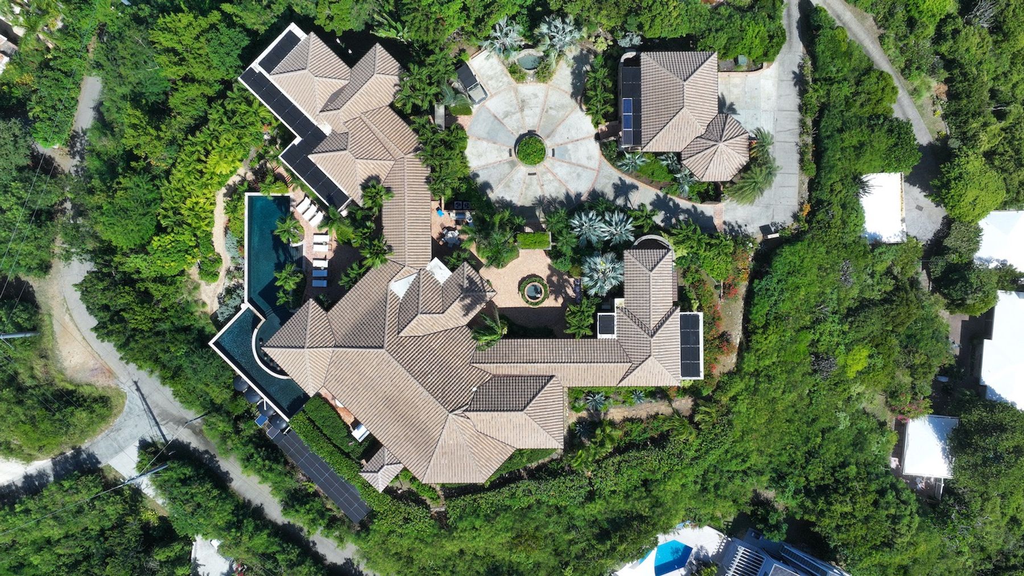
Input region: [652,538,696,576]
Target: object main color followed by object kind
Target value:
blue swimming pool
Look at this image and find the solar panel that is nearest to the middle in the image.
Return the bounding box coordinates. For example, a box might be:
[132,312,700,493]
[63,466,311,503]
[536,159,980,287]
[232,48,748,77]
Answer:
[600,316,614,334]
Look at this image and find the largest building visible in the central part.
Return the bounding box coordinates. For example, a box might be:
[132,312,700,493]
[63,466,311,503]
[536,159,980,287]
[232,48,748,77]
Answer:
[237,22,704,494]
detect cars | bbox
[455,61,490,107]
